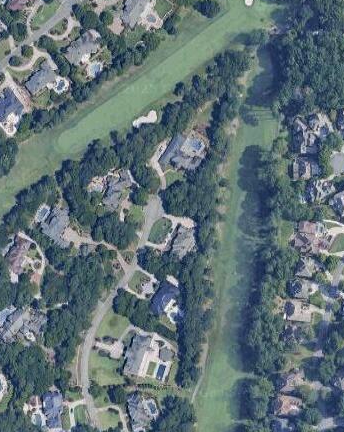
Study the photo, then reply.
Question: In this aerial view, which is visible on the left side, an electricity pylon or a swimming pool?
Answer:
swimming pool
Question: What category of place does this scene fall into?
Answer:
residential area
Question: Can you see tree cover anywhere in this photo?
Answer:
Yes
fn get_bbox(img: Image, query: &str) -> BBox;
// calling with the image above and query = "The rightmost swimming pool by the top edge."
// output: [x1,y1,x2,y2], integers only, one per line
[140,9,160,27]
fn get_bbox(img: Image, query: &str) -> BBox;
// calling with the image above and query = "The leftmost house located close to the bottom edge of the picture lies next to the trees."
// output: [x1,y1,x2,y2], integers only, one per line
[41,389,64,428]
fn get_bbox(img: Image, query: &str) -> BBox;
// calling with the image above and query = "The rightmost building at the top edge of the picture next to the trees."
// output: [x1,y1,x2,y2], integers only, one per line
[121,0,150,30]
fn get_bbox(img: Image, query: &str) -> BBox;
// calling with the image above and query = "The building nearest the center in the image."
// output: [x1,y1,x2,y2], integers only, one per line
[169,223,198,261]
